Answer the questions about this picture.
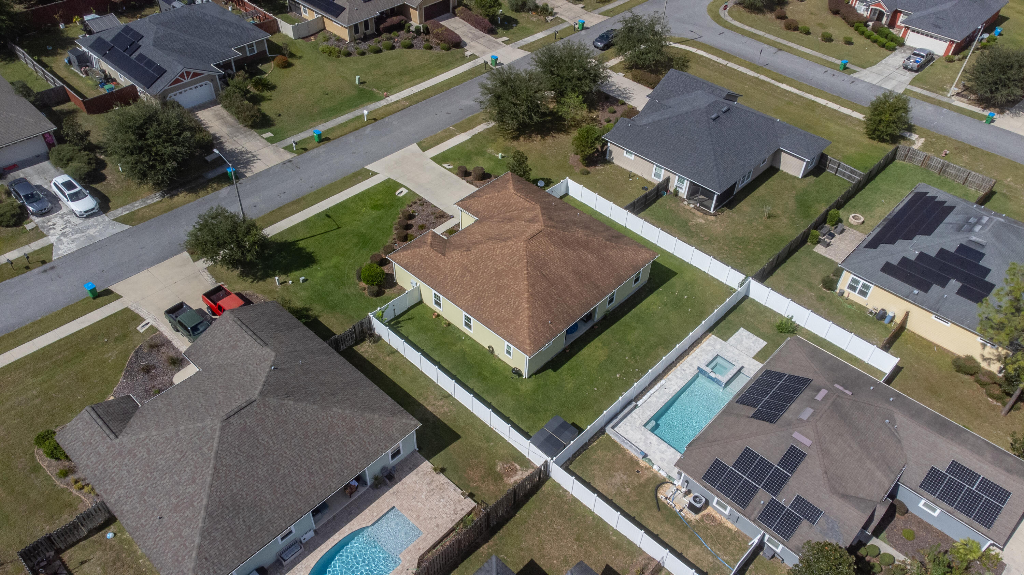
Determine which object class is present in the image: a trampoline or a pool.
pool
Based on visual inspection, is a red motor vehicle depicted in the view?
Yes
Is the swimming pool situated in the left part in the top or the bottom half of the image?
bottom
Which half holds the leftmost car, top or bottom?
top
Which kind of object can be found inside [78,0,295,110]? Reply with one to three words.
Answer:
house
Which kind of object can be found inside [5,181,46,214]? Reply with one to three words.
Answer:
car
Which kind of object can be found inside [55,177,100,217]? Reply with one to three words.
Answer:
car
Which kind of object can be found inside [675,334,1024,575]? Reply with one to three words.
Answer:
house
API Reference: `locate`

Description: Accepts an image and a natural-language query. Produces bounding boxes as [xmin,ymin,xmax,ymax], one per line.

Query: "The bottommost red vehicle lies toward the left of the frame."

[202,287,245,318]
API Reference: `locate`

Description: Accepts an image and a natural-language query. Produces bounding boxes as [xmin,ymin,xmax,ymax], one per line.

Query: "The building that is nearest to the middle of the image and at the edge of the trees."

[386,170,660,379]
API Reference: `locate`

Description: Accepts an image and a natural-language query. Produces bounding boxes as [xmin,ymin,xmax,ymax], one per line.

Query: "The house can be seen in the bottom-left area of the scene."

[55,299,422,575]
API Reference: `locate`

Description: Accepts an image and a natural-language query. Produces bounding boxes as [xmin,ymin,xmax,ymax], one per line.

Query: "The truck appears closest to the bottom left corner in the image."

[165,304,213,345]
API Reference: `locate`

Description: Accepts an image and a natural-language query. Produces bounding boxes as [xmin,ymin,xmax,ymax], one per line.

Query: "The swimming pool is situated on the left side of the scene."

[308,506,423,575]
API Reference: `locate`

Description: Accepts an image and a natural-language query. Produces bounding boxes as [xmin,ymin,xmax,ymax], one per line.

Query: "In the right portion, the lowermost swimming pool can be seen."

[644,369,753,454]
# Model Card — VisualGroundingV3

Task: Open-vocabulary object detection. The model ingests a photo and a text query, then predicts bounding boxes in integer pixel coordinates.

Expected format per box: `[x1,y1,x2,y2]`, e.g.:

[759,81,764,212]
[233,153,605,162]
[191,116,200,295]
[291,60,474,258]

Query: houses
[0,74,61,176]
[78,0,295,110]
[675,334,1024,575]
[834,182,1024,380]
[849,0,1010,62]
[386,170,660,379]
[601,68,832,216]
[55,299,422,575]
[278,0,454,46]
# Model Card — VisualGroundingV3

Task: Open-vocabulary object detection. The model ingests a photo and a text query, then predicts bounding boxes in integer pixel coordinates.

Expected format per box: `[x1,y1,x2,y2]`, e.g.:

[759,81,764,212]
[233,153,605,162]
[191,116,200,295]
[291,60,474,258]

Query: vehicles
[5,181,46,214]
[165,304,213,345]
[202,287,245,318]
[55,177,100,217]
[904,42,938,69]
[595,22,625,46]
